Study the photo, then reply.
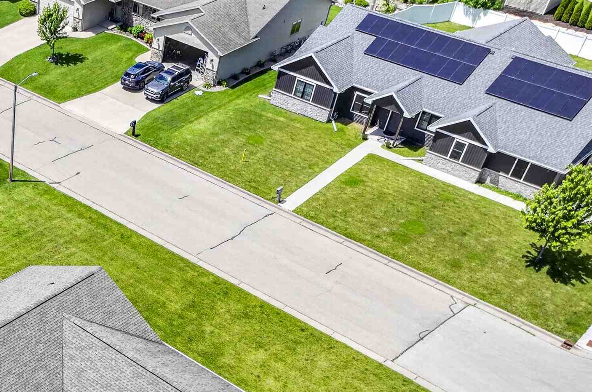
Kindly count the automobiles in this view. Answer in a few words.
2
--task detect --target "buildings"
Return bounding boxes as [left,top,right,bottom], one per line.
[32,0,334,84]
[270,0,592,195]
[505,0,562,14]
[0,265,244,392]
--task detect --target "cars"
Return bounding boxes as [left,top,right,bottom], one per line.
[147,59,198,97]
[127,56,173,86]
